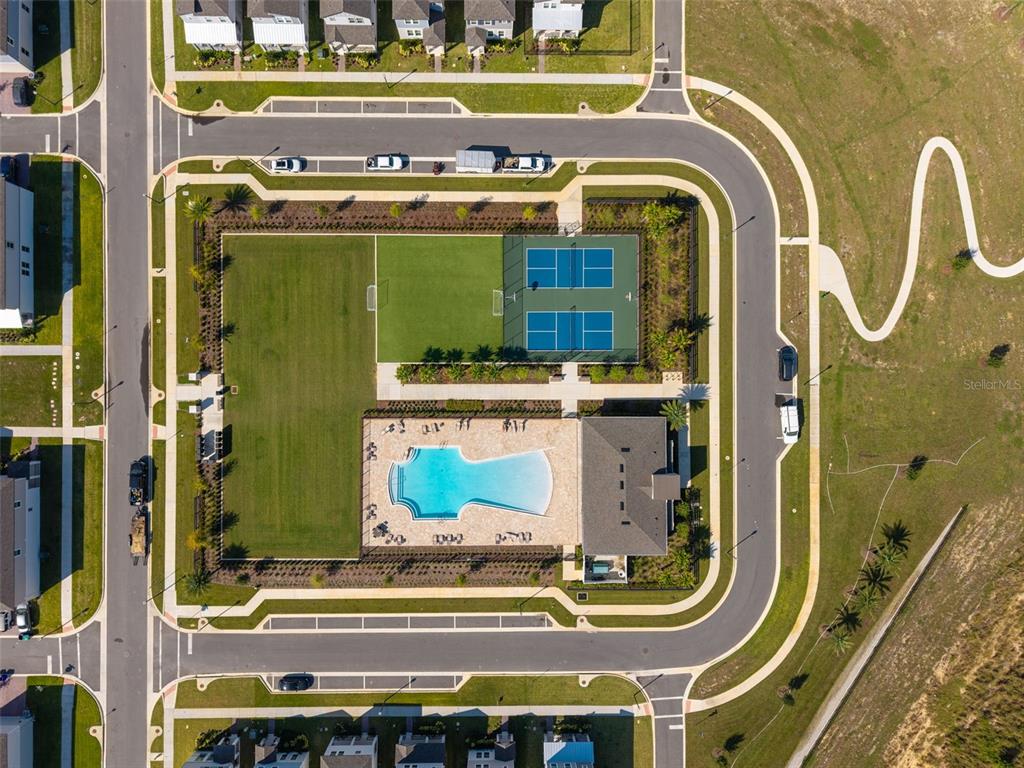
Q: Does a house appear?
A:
Yes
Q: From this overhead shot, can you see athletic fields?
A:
Yes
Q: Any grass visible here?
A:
Yes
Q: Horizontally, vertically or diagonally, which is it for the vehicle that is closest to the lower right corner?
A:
vertically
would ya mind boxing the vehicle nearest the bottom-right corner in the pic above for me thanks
[779,405,800,444]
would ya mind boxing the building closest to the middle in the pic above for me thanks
[581,416,680,557]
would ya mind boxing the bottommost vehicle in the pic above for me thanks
[281,674,313,691]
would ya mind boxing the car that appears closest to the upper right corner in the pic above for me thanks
[780,347,797,380]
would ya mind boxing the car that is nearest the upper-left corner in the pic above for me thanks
[11,77,29,106]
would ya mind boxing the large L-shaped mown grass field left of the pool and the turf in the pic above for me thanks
[221,234,376,559]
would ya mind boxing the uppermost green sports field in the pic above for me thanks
[376,234,503,363]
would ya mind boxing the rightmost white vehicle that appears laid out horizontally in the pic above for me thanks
[503,155,544,173]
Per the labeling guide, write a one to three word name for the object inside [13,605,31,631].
car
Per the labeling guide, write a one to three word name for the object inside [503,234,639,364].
sports court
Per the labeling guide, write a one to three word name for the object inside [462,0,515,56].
house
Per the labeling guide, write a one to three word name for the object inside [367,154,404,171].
vehicle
